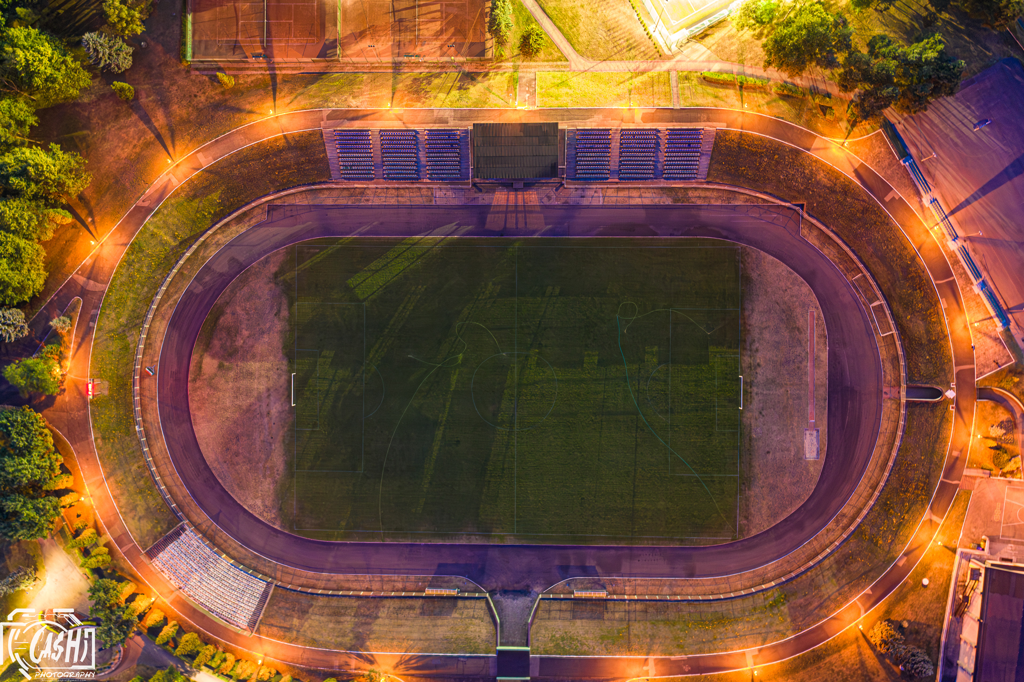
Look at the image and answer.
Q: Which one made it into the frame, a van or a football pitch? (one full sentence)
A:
The image shows a football pitch.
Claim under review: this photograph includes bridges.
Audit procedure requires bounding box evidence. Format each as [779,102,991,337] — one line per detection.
[497,644,530,680]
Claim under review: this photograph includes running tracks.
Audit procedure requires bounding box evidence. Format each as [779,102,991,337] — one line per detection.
[157,204,884,592]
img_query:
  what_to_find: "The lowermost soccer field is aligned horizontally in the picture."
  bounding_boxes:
[188,237,827,547]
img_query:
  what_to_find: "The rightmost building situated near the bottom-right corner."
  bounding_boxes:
[938,536,1024,682]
